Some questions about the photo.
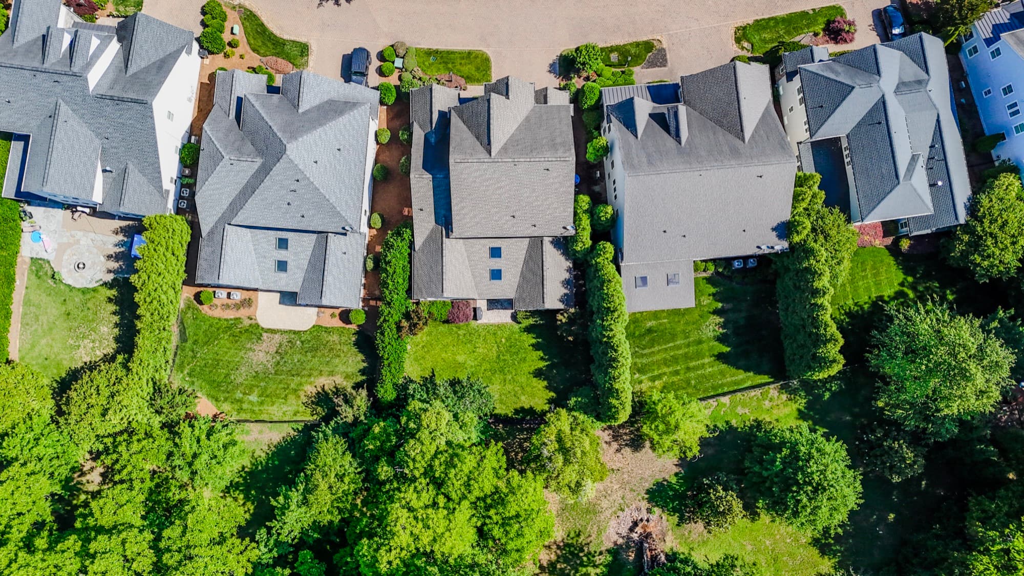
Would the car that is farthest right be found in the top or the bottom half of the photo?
top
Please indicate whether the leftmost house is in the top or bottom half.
top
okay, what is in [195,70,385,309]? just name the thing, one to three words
house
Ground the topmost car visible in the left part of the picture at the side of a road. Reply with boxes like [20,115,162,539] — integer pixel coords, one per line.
[351,46,374,86]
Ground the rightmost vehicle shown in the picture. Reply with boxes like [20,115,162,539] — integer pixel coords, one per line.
[878,1,908,46]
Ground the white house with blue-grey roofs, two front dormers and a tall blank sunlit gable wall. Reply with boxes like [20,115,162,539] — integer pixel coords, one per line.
[0,0,207,218]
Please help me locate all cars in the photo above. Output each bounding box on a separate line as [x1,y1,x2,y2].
[351,46,374,86]
[878,1,908,46]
